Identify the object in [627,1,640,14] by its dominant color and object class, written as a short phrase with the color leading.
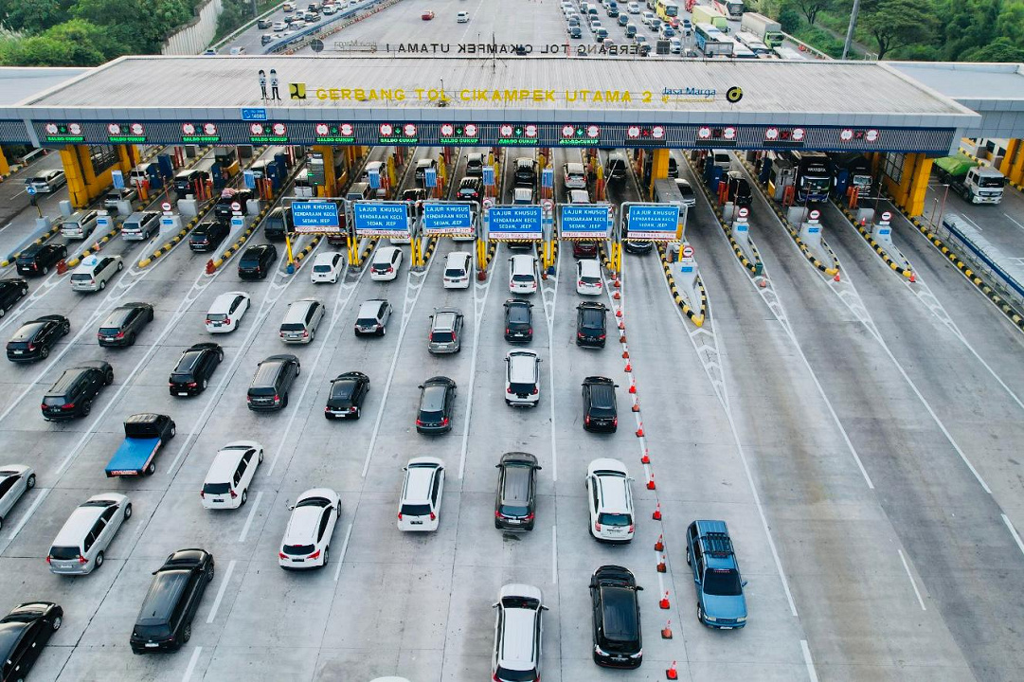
white vehicle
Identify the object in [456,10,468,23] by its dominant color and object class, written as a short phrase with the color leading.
white vehicle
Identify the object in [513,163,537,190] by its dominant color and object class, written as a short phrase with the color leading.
black car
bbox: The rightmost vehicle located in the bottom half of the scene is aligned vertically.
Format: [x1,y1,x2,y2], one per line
[684,521,751,637]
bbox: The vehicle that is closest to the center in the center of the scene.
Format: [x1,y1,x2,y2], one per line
[501,306,535,350]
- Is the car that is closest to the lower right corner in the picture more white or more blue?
blue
